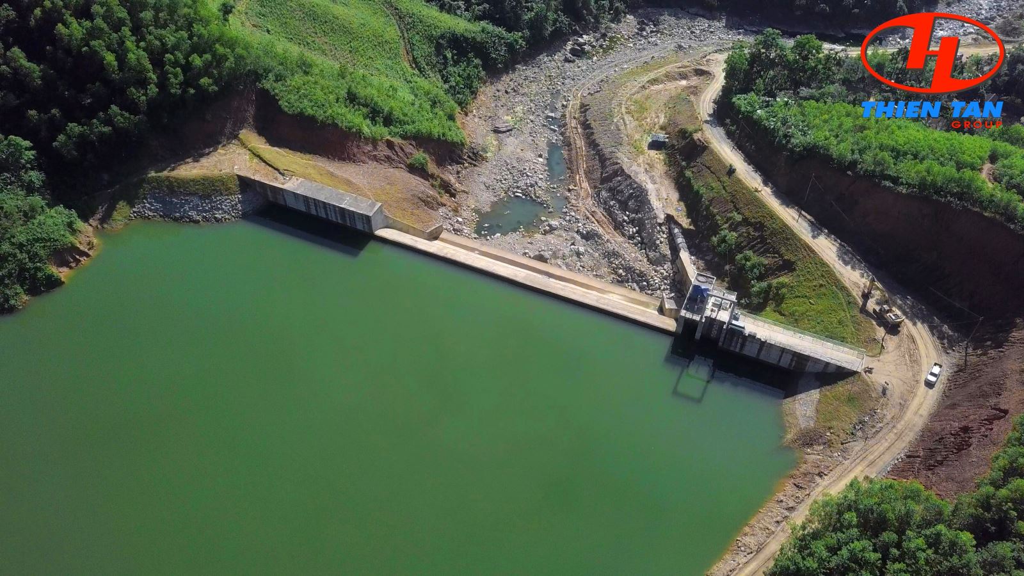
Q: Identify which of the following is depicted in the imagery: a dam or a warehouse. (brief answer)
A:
dam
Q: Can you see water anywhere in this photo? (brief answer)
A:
Yes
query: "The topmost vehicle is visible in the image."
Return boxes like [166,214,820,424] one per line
[863,283,913,328]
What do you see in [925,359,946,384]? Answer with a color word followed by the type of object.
white truck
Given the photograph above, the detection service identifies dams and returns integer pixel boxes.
[373,225,680,335]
